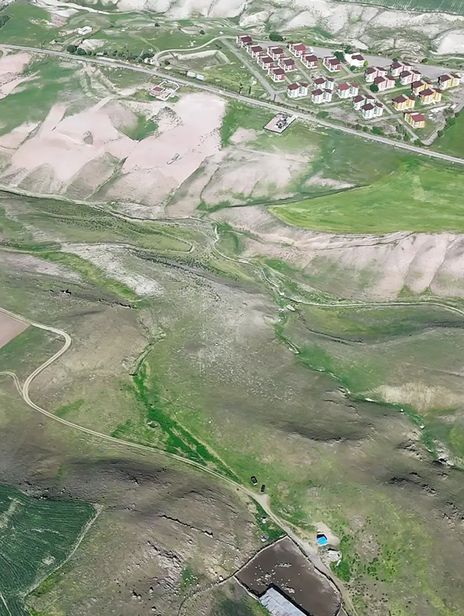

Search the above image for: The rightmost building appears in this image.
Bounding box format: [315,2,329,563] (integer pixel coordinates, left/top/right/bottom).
[438,71,464,90]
